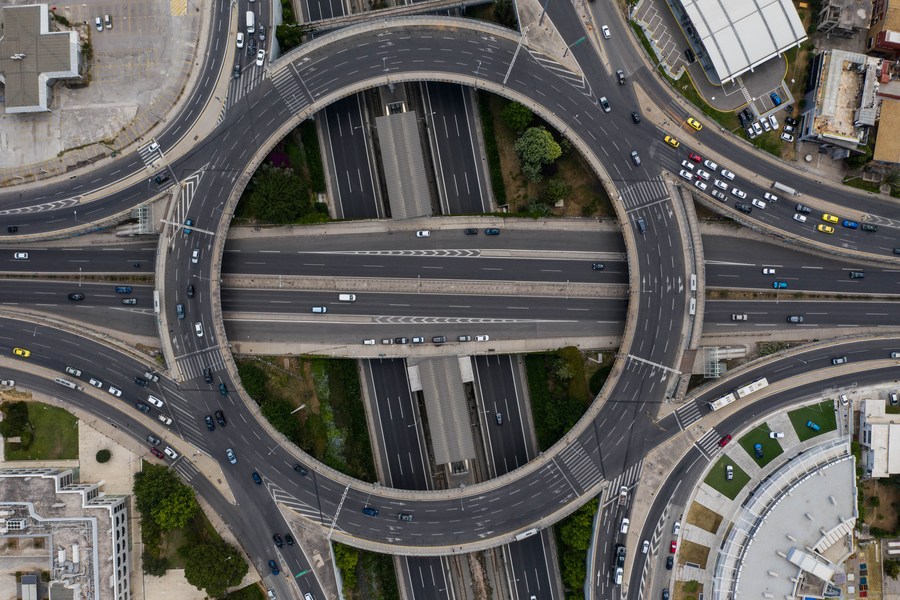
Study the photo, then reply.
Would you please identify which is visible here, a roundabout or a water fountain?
roundabout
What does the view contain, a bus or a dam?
bus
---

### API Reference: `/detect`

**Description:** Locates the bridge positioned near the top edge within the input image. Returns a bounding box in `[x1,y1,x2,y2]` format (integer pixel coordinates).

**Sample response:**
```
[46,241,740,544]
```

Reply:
[294,0,482,34]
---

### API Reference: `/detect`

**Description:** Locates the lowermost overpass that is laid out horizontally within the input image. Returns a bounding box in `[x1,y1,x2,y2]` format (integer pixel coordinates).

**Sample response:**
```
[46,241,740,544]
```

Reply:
[221,216,628,358]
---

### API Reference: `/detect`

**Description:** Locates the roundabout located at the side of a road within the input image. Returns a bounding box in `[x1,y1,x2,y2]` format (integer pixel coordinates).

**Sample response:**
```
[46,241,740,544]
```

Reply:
[156,17,692,555]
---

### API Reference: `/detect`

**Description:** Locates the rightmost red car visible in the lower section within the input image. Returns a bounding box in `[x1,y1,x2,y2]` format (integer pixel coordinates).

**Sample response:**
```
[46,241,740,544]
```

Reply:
[717,434,733,447]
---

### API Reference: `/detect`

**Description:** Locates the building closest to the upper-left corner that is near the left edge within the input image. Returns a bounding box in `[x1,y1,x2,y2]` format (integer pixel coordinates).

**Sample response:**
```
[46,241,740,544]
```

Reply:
[0,4,79,110]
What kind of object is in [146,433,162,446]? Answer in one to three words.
vehicle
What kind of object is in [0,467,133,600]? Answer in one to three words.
building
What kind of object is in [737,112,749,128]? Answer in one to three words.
vehicle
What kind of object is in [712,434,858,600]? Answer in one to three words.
building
